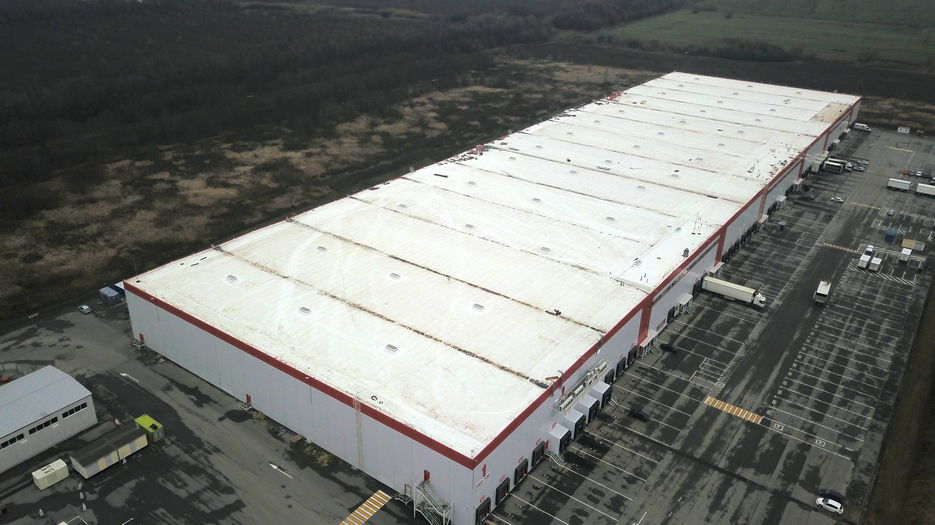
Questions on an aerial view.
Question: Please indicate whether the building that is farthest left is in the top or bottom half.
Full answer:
The building that is farthest left is in the bottom half of the image.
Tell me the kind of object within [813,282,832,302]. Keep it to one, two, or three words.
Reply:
vehicle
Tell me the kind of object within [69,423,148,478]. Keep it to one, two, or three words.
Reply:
building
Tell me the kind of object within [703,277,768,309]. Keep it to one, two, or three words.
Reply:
truck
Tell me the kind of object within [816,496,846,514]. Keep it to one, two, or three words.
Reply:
car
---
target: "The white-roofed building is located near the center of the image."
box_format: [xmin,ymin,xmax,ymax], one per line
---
[121,72,864,525]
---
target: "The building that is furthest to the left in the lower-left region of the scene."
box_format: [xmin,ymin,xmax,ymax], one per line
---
[0,364,99,473]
